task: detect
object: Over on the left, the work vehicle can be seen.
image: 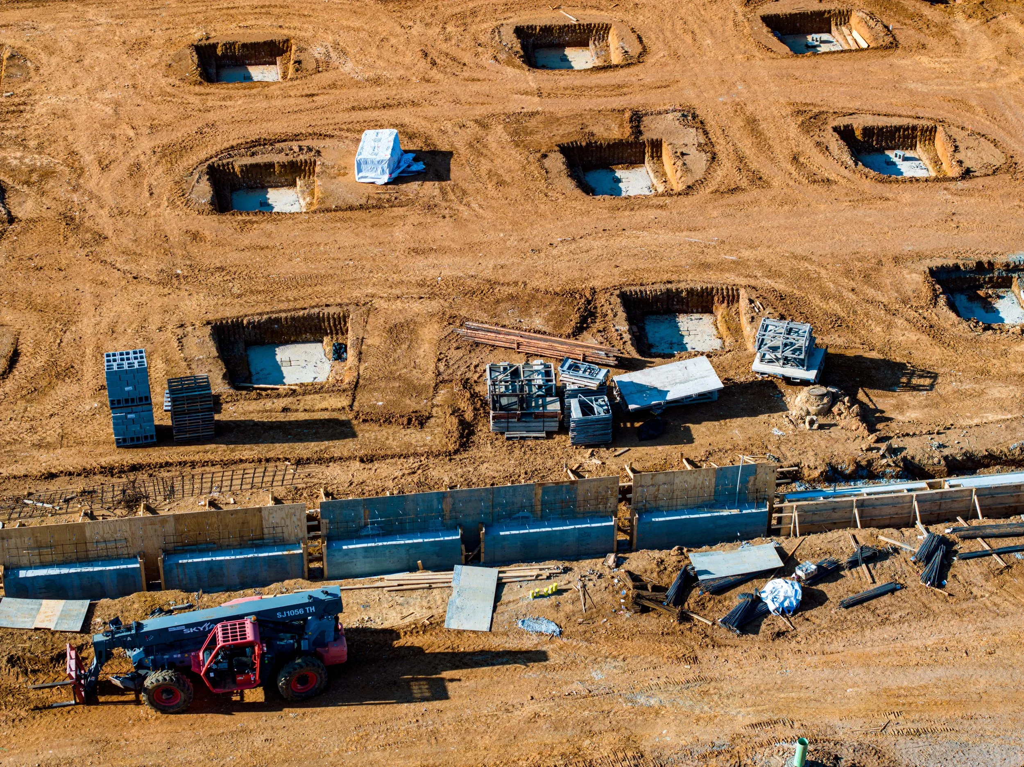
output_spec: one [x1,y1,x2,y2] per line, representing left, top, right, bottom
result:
[29,585,347,715]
